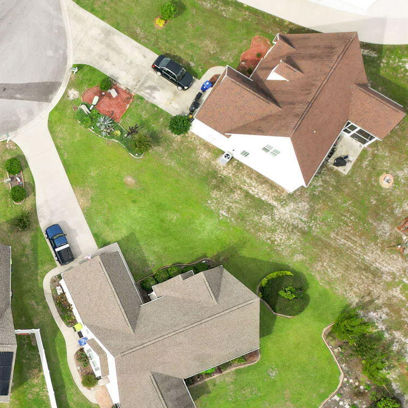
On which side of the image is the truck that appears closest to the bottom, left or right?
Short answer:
left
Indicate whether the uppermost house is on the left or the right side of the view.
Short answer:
right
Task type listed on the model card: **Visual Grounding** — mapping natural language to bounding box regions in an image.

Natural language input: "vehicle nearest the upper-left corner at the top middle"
[152,51,197,89]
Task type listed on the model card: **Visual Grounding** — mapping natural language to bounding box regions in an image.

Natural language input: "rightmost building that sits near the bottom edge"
[58,249,260,408]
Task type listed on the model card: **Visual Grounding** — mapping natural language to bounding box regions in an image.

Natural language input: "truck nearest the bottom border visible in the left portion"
[46,221,79,268]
